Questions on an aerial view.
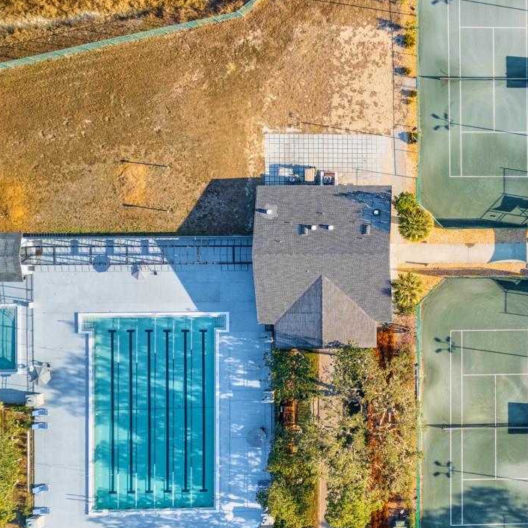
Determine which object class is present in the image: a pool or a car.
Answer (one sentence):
Visible in the photo is a pool.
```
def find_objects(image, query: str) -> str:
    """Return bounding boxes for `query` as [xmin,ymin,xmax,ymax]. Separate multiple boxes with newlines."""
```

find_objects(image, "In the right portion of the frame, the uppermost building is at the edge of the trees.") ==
[258,186,392,349]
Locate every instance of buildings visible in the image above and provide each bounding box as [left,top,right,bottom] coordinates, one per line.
[258,186,392,349]
[0,234,33,280]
